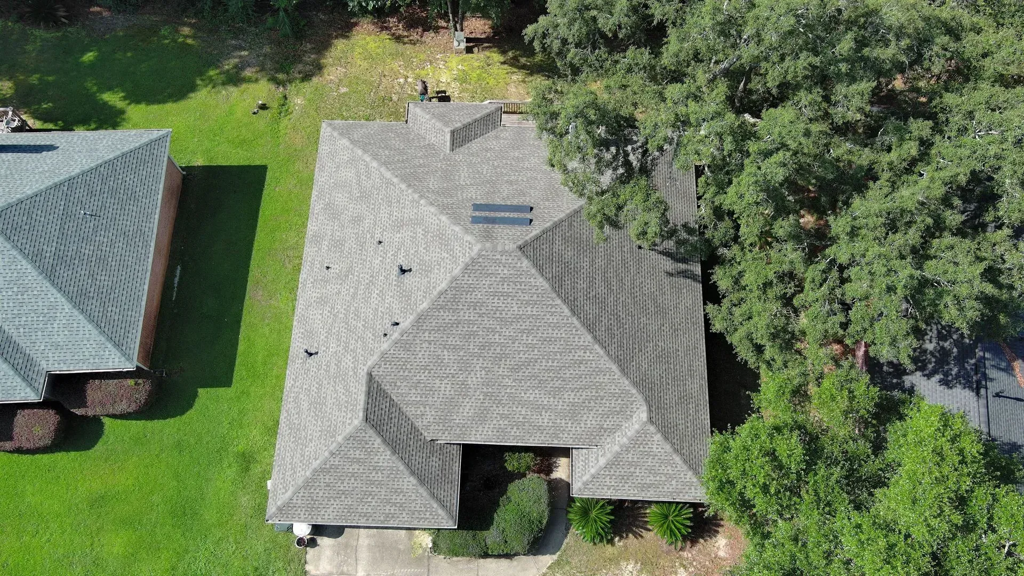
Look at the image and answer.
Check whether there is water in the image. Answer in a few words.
No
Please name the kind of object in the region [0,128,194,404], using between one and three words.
house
